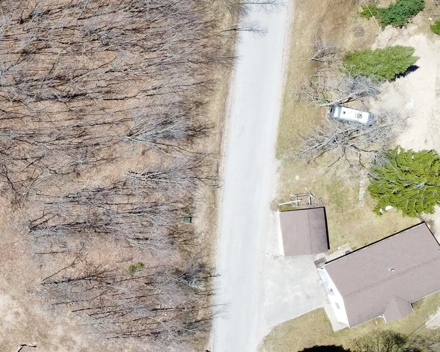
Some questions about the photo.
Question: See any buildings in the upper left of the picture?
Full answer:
No, no building can be made out in the upper left of the picture.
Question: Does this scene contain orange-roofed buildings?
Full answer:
No, no orange-roofed building can be seen from above.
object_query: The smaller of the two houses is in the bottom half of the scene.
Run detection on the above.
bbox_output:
[274,207,328,257]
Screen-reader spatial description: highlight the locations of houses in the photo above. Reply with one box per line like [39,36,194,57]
[274,207,328,257]
[318,223,440,329]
